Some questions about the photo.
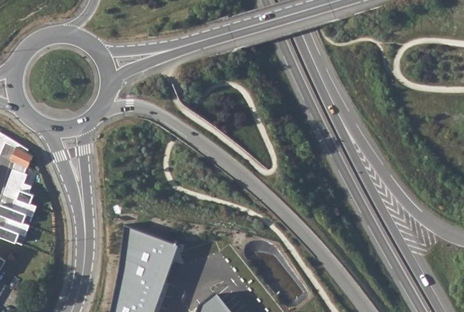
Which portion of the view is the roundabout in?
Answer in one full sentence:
The roundabout is located in the top left region of the scene.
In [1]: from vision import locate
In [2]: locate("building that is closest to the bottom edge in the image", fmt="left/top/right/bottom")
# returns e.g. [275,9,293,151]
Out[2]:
[194,292,231,312]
